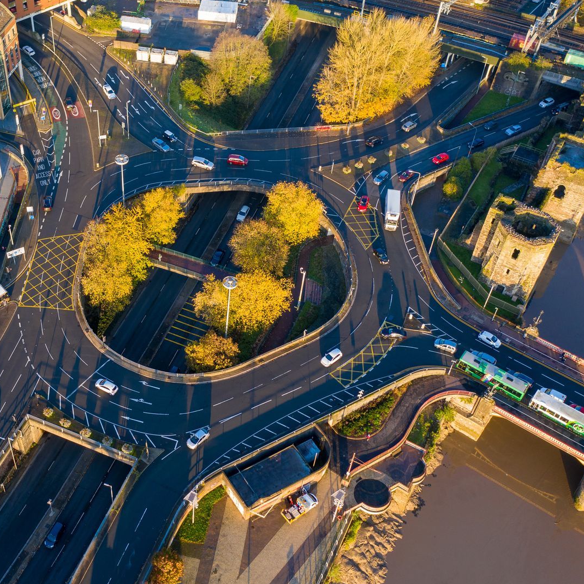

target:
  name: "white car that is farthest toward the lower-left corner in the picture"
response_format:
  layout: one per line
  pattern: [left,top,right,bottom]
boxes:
[95,380,119,395]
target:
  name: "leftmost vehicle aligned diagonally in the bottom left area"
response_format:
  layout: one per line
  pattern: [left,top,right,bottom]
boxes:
[44,522,66,549]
